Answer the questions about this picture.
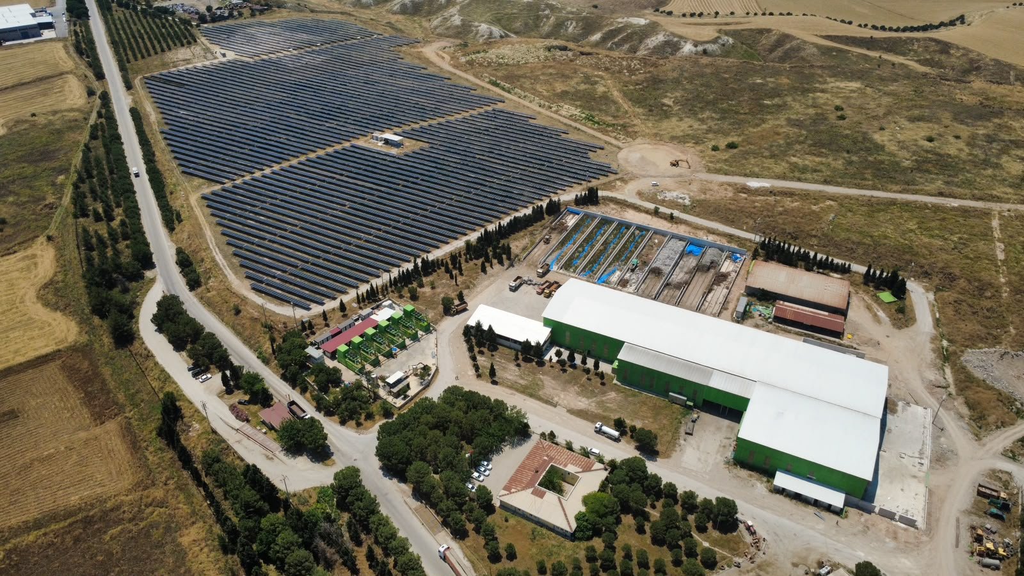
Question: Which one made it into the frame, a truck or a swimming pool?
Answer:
truck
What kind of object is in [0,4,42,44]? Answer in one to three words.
building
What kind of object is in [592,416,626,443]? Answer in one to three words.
truck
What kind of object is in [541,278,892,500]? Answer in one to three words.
building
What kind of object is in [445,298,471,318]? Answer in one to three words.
vehicle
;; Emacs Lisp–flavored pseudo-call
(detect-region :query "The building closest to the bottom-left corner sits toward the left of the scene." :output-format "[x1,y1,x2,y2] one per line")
[258,401,297,433]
